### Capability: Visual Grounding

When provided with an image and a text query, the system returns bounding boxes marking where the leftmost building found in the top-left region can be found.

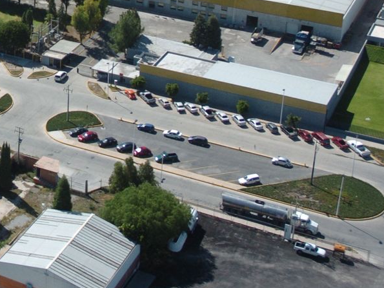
[40,49,70,70]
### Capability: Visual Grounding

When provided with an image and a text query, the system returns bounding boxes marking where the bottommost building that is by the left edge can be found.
[0,213,133,288]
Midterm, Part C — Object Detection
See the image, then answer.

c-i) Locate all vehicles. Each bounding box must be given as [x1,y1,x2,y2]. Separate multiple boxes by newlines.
[134,145,151,154]
[138,91,157,102]
[252,27,263,40]
[172,102,186,111]
[331,134,351,147]
[185,103,201,113]
[223,198,316,241]
[189,134,207,144]
[271,156,293,166]
[217,111,232,122]
[280,125,298,136]
[231,115,249,126]
[294,243,326,259]
[312,130,333,144]
[199,106,218,117]
[53,69,68,81]
[163,128,183,138]
[98,136,118,145]
[137,122,156,130]
[157,97,173,107]
[294,31,310,52]
[238,170,261,184]
[264,121,281,132]
[248,119,265,130]
[124,89,138,99]
[116,141,136,150]
[297,129,313,139]
[79,130,98,139]
[154,150,179,161]
[68,126,87,135]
